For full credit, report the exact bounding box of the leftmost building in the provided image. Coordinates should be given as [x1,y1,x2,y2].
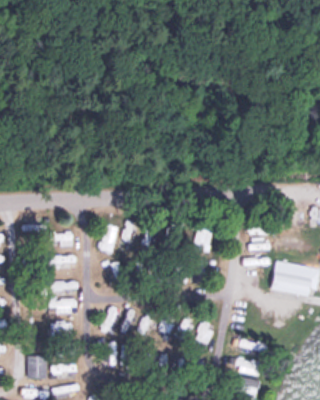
[28,356,48,379]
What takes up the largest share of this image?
trees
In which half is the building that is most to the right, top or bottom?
bottom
